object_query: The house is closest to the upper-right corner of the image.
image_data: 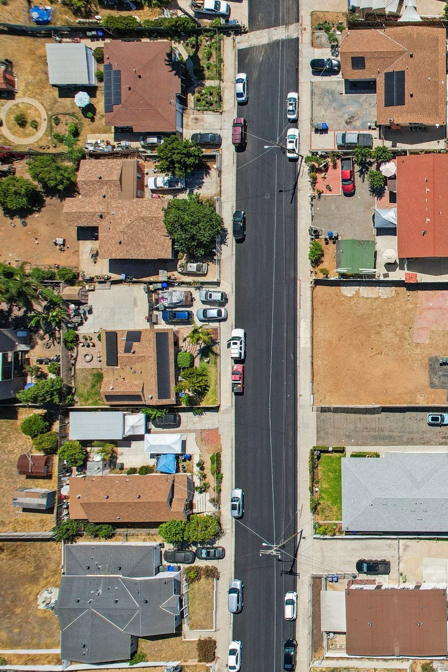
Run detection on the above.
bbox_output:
[338,25,446,125]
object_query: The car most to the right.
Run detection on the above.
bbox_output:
[426,413,448,427]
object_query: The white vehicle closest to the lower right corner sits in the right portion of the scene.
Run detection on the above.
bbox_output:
[283,590,299,622]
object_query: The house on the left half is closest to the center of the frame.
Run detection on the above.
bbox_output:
[99,329,183,405]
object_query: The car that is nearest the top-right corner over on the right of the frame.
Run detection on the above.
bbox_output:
[310,57,339,72]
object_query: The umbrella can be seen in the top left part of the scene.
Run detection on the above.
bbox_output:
[75,92,94,108]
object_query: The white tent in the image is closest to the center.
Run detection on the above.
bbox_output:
[145,433,189,454]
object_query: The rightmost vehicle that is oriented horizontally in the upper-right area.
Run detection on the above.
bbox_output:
[336,131,374,146]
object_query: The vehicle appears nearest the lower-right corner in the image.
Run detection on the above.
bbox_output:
[355,560,390,576]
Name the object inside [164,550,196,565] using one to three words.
car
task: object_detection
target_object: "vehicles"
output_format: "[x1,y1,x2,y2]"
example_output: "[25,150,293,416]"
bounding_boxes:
[286,92,300,121]
[190,0,231,15]
[234,73,250,104]
[198,289,228,304]
[190,131,222,146]
[336,131,374,146]
[426,413,448,427]
[283,637,298,671]
[230,488,246,518]
[149,413,182,428]
[147,175,186,190]
[177,262,209,275]
[195,547,227,561]
[223,327,246,360]
[197,308,229,322]
[228,578,244,614]
[283,590,299,622]
[286,129,300,159]
[228,639,243,672]
[231,116,249,147]
[231,209,247,239]
[355,560,390,576]
[230,361,246,393]
[310,57,339,72]
[162,310,195,324]
[340,157,355,194]
[164,550,196,565]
